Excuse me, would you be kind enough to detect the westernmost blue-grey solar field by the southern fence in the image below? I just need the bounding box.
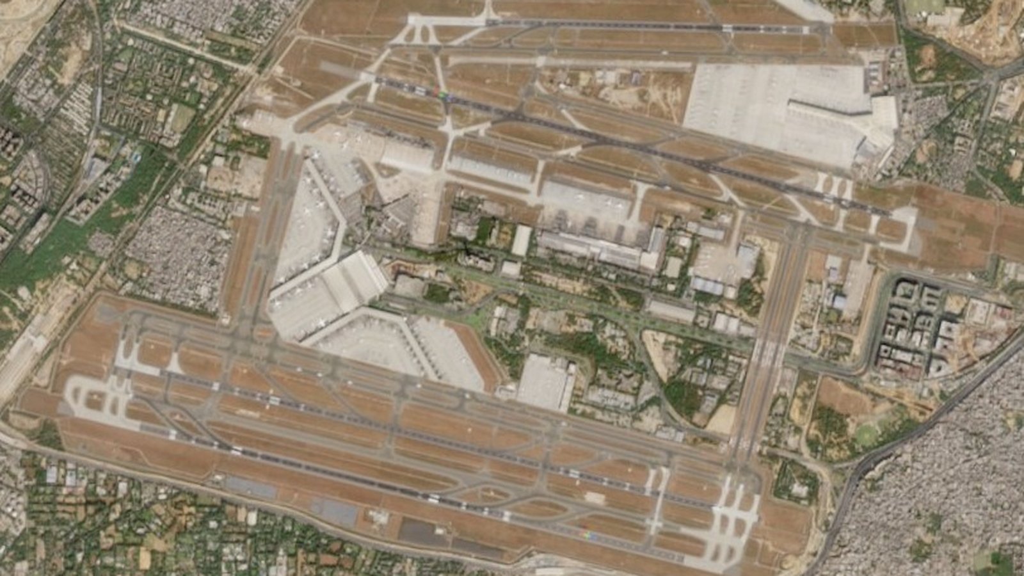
[225,477,276,498]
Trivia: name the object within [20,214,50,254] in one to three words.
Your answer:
building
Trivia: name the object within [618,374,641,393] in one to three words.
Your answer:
building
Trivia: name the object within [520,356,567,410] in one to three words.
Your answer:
hangar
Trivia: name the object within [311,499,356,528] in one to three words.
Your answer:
solar array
